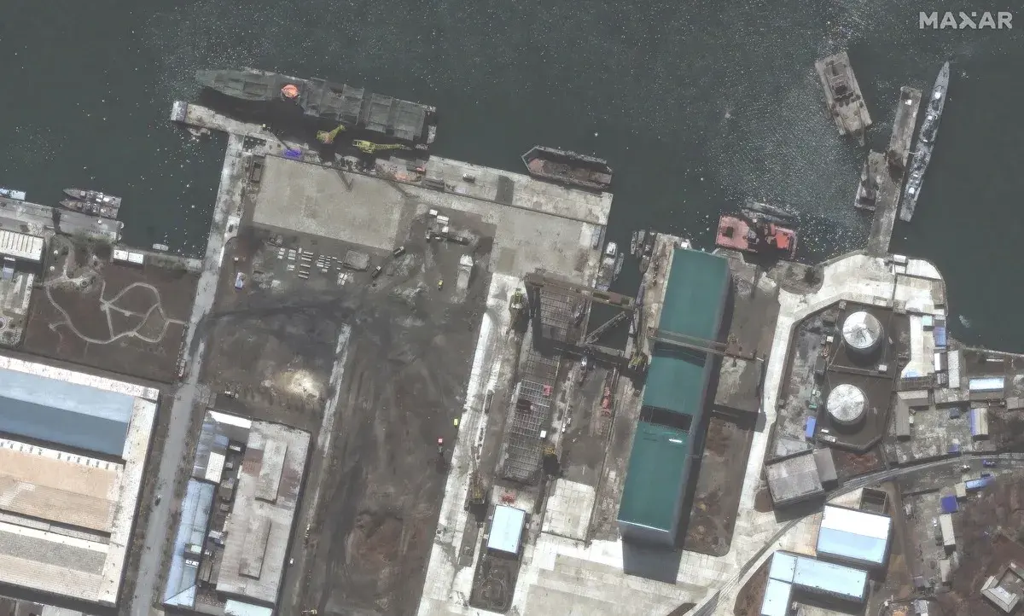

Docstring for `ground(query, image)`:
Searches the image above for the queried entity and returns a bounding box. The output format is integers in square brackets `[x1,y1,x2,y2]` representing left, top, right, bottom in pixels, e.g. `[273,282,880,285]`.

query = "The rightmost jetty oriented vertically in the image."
[867,87,922,256]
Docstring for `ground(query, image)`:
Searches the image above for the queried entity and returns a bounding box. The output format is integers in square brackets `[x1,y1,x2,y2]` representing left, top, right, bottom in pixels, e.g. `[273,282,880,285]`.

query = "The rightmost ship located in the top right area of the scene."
[898,60,948,224]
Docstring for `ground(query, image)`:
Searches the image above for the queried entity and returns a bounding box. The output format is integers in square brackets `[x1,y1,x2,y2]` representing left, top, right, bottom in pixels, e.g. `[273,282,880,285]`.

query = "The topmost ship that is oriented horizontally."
[195,69,431,146]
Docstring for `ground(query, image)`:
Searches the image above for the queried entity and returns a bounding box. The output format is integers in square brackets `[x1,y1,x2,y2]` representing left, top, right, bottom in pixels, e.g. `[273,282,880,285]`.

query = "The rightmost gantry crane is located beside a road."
[646,324,763,394]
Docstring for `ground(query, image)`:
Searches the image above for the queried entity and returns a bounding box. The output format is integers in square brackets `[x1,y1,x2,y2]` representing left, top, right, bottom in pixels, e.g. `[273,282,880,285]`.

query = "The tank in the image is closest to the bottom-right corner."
[827,385,867,428]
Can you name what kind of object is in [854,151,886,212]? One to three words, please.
ship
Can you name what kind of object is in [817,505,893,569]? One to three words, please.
building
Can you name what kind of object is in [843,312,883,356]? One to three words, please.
storage tank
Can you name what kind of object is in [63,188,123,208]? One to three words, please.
boat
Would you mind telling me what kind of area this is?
port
